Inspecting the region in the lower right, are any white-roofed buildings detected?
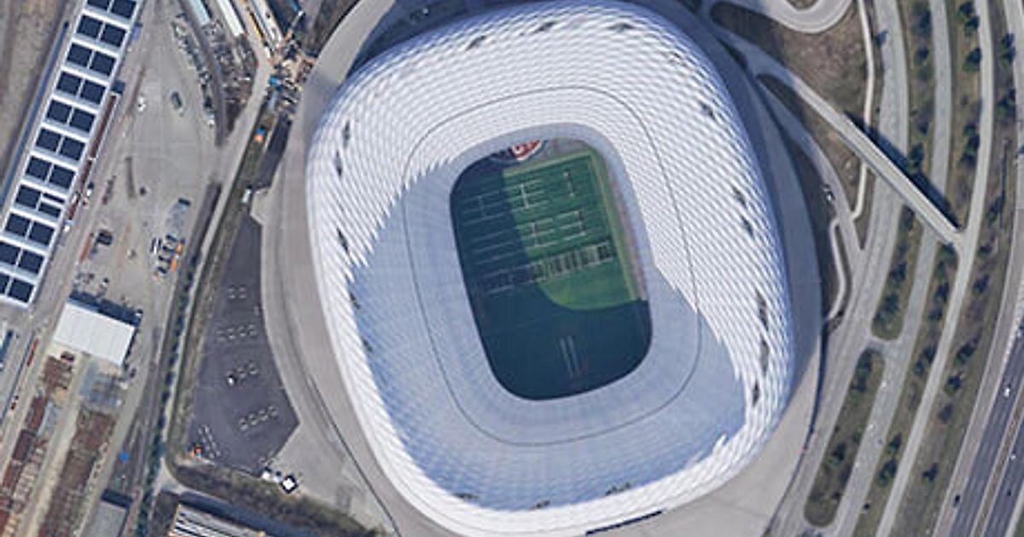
No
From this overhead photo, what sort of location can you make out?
sports ground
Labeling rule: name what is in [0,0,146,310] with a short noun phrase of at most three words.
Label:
building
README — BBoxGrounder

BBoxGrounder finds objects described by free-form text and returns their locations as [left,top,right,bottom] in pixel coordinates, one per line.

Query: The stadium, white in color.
[304,0,798,537]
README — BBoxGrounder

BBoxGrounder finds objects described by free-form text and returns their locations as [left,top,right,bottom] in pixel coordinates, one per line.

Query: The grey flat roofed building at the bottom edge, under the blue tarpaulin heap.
[83,499,127,537]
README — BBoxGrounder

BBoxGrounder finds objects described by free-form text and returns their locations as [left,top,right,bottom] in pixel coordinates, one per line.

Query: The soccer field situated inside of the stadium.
[451,144,649,398]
